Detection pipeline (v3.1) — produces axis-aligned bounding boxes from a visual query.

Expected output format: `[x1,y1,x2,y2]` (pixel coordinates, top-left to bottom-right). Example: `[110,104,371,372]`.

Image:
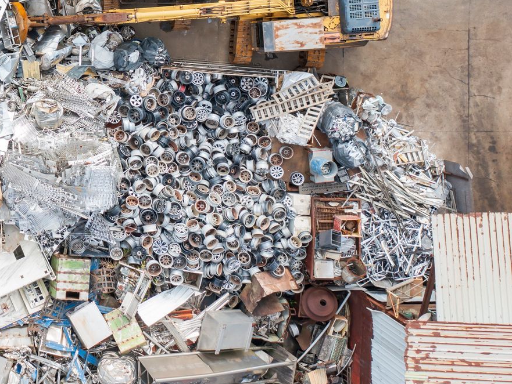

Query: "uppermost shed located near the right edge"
[431,212,512,324]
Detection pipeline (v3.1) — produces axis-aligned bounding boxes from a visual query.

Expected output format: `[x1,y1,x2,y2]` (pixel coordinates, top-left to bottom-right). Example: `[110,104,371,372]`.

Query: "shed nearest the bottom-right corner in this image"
[404,321,512,384]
